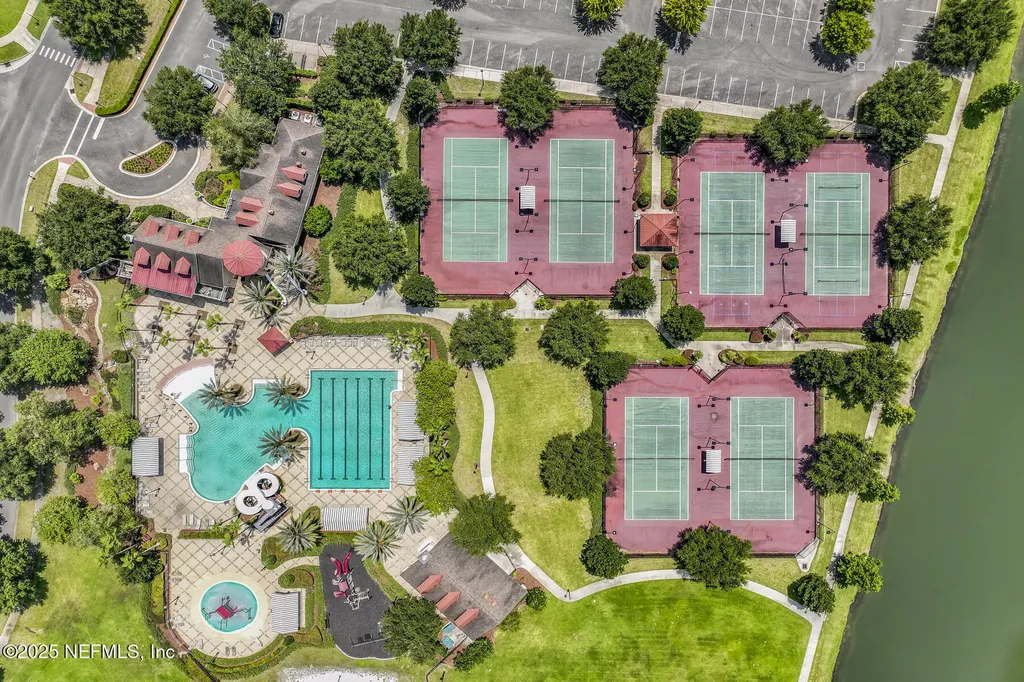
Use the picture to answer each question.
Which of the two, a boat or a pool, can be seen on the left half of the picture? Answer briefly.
pool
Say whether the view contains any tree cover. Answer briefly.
Yes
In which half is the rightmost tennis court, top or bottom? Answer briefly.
top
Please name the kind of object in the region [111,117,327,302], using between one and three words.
building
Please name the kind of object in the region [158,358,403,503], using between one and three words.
swimming pool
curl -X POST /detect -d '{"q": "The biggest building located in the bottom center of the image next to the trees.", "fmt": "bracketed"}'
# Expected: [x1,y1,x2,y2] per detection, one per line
[401,532,527,640]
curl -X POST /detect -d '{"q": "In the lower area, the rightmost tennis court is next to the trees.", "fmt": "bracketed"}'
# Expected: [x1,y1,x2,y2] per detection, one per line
[710,366,816,554]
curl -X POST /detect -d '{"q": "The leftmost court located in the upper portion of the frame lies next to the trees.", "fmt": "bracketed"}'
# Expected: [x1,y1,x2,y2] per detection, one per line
[421,108,528,295]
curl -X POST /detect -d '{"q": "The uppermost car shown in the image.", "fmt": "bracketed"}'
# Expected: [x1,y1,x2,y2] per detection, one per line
[269,9,283,37]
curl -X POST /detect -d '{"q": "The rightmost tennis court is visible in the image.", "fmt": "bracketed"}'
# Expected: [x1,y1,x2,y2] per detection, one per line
[785,141,889,328]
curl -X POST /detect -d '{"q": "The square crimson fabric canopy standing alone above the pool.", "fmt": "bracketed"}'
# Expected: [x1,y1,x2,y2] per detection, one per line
[258,326,294,356]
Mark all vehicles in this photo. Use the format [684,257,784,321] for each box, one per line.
[192,67,218,92]
[269,9,283,37]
